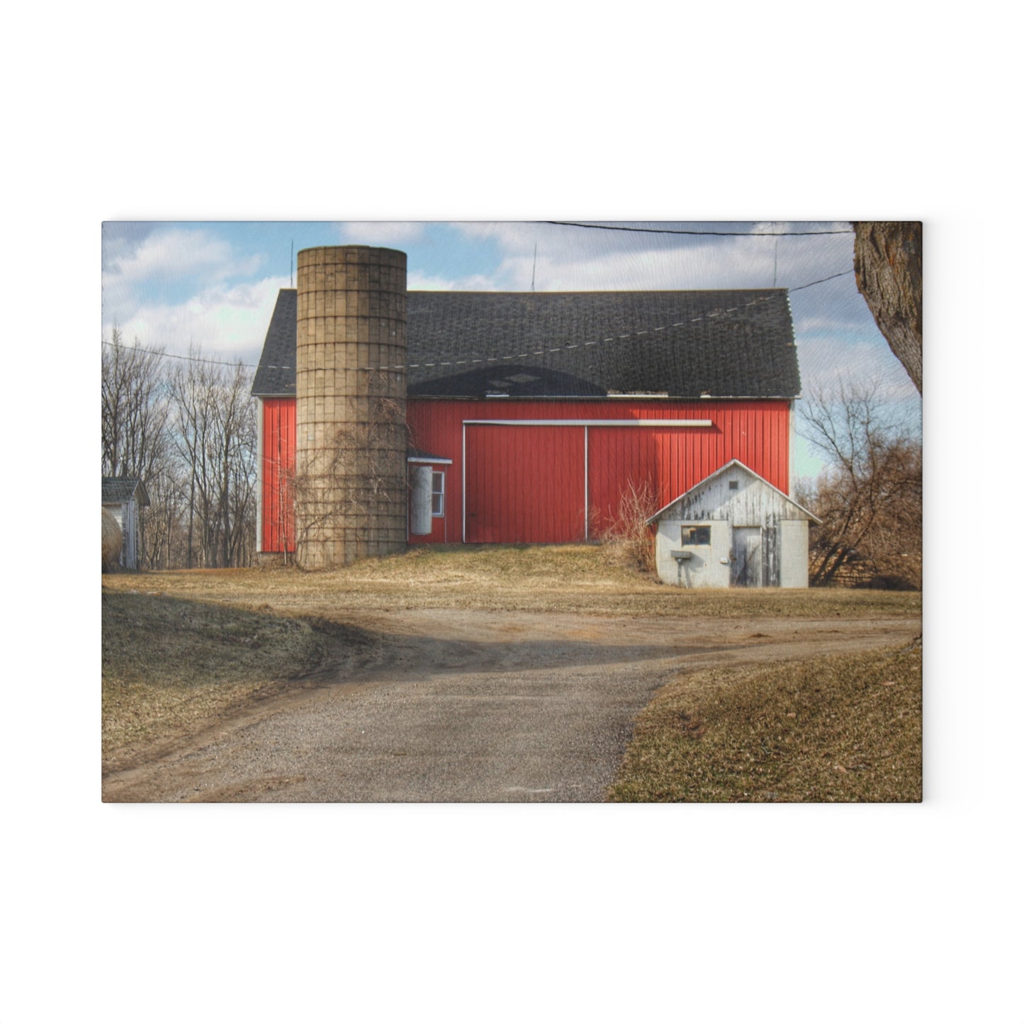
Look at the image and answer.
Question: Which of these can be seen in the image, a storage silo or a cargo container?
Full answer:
Visible in the photo is a storage silo.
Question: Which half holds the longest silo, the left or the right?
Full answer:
The longest silo sits on the left side.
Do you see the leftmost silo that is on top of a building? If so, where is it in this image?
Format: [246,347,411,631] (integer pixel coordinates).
[296,245,407,571]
